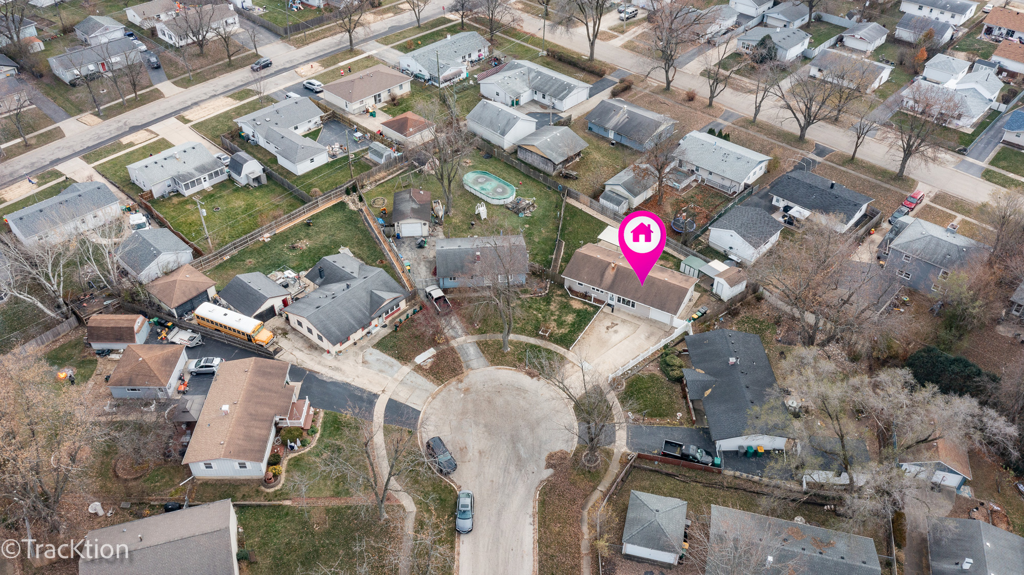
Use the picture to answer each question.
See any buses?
Yes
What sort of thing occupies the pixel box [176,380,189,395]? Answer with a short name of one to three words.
vehicle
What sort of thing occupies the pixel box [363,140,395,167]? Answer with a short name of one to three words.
shed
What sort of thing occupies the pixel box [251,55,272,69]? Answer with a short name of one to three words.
car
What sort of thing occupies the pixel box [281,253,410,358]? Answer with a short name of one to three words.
house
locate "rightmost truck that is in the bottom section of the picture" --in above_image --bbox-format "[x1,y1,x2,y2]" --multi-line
[661,435,713,465]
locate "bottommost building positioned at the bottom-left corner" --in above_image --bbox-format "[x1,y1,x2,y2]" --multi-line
[75,498,236,575]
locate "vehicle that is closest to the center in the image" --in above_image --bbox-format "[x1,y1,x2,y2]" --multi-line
[424,287,452,315]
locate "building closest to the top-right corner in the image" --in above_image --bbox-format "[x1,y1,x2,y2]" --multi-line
[980,9,1024,46]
